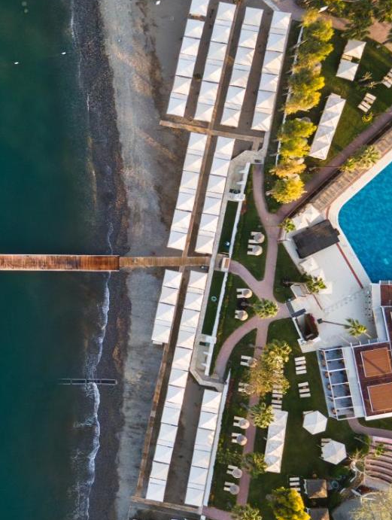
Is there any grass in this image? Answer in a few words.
Yes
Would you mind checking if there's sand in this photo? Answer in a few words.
Yes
